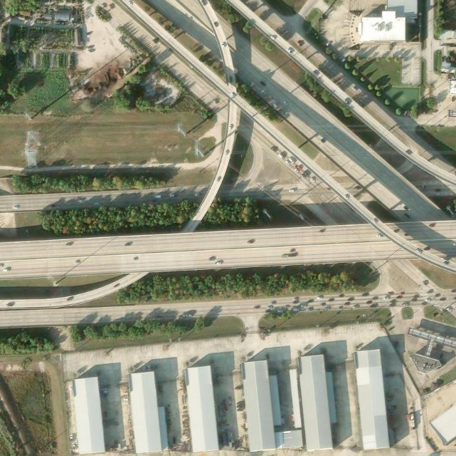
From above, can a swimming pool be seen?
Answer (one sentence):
No, there's no swimming pool here.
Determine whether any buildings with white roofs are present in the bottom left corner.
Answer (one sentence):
Yes, I can see a building with a white roof in the bottom left corner.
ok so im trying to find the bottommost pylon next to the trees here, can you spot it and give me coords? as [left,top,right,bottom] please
[20,153,37,172]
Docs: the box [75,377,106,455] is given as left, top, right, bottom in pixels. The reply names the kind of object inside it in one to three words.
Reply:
building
